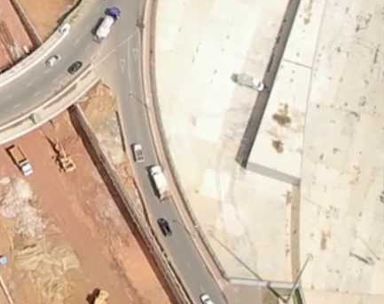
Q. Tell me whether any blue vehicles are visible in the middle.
No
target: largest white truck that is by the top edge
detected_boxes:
[95,7,118,39]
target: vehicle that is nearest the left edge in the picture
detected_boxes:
[9,145,29,176]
